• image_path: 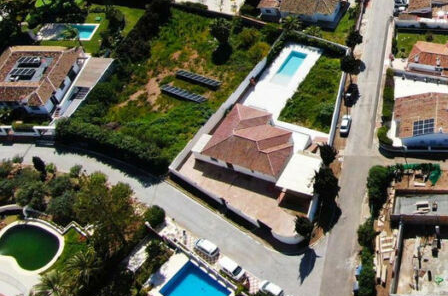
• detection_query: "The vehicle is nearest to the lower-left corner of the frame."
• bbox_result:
[194,235,219,257]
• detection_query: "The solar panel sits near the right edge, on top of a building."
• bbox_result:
[413,118,434,135]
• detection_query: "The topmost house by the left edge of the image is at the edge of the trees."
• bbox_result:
[0,47,116,112]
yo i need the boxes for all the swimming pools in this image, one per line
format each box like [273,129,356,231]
[270,50,309,87]
[0,220,66,274]
[68,22,103,42]
[154,258,235,296]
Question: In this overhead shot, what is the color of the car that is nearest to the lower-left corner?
white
